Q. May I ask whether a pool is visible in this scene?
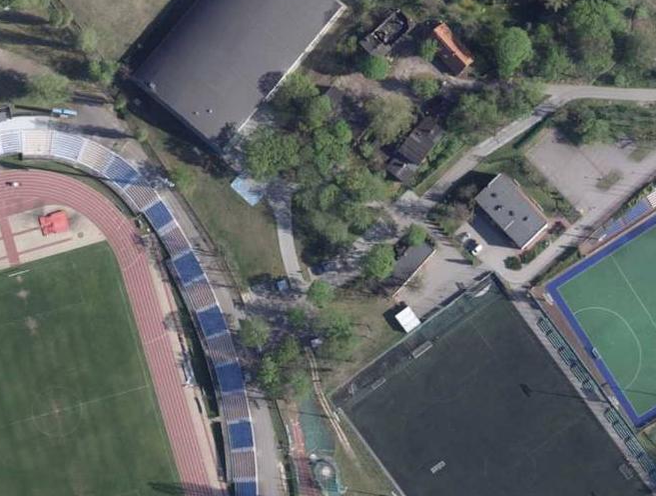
No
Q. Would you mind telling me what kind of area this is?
sports ground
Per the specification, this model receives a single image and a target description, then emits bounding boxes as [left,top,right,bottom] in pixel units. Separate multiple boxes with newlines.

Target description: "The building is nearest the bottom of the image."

[395,306,420,332]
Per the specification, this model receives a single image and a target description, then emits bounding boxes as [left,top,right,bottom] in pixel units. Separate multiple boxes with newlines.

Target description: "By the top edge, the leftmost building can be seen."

[134,0,346,153]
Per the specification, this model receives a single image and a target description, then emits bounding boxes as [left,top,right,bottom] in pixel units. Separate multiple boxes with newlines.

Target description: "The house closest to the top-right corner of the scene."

[425,22,474,77]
